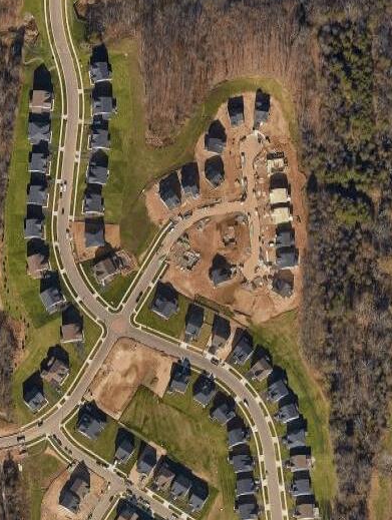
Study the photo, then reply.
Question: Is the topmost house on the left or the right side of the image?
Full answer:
The topmost house appears in the left half of the scene.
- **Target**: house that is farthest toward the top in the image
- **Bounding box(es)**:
[90,58,110,80]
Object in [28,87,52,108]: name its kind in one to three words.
house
